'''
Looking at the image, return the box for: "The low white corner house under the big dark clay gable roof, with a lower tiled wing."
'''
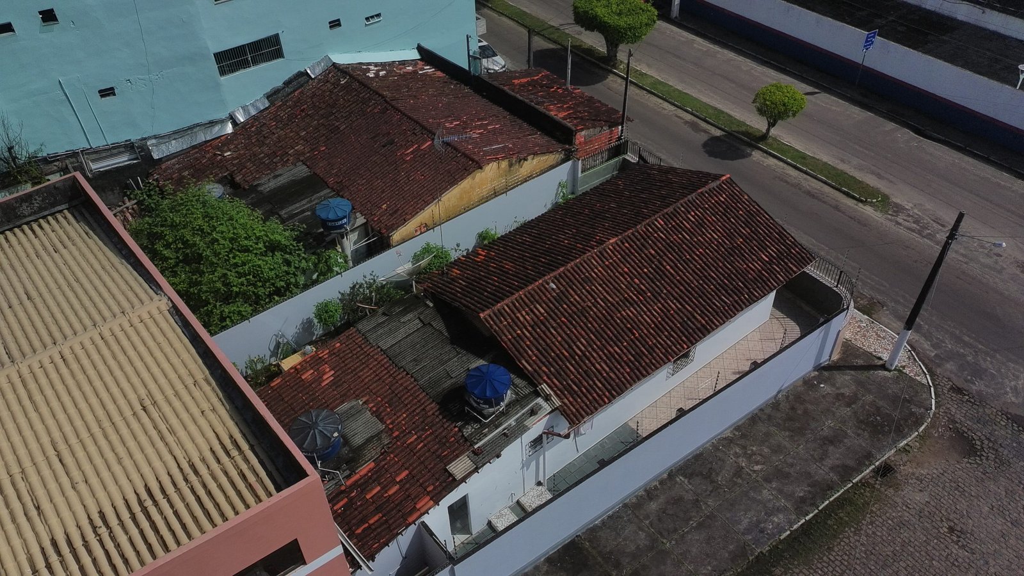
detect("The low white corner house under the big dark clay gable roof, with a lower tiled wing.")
[255,160,817,576]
